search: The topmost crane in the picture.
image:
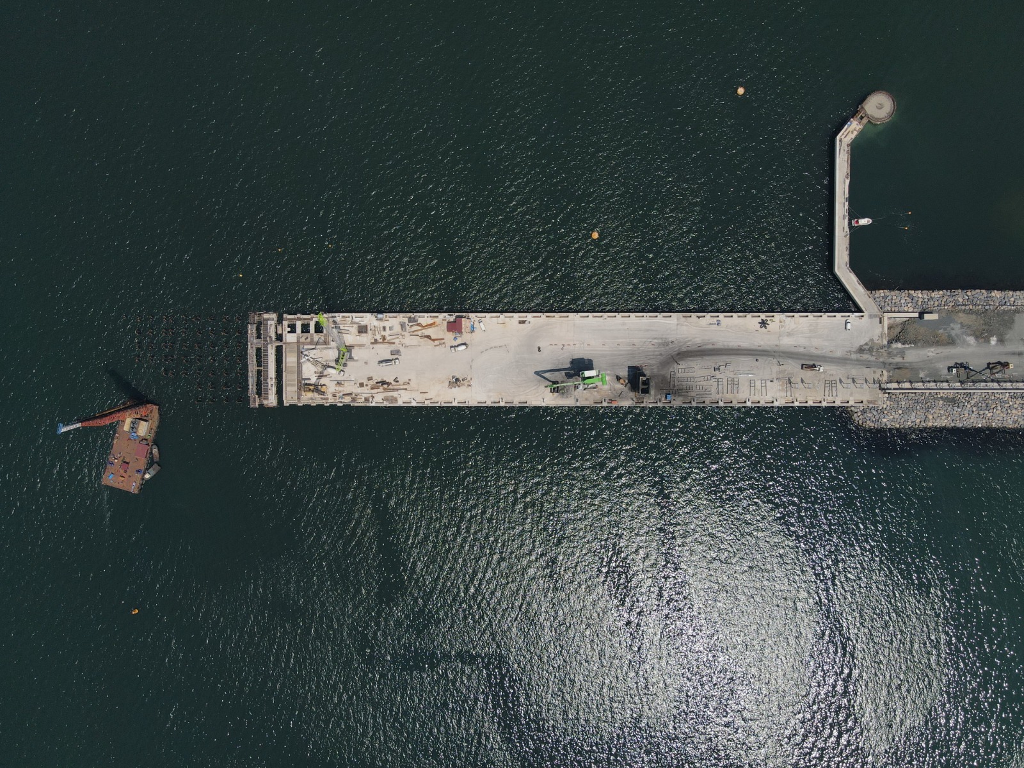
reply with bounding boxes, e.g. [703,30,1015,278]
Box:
[320,313,351,372]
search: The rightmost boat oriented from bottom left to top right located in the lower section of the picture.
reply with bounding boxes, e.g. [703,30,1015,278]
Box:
[145,463,162,480]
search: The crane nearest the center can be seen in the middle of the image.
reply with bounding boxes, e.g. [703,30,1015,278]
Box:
[542,369,607,392]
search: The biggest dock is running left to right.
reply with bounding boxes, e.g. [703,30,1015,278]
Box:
[282,313,883,407]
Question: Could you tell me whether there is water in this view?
Yes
